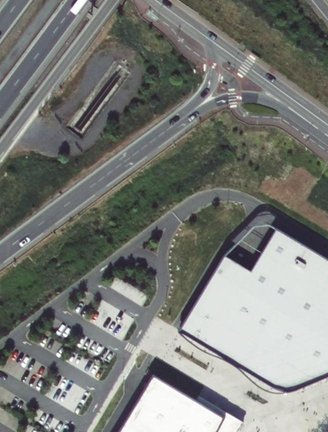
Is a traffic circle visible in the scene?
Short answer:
No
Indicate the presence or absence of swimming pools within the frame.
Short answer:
No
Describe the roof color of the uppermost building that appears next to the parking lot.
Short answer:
white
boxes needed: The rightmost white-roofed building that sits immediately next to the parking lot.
[182,224,328,396]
